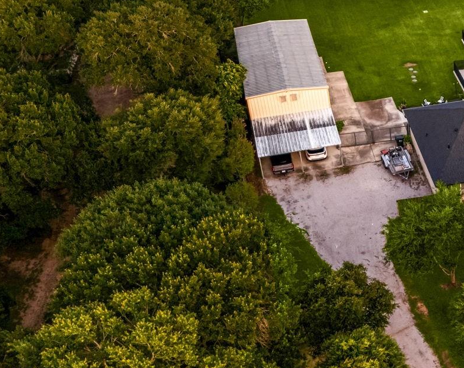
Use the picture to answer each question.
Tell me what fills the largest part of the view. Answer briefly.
trees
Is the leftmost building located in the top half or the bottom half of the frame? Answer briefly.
top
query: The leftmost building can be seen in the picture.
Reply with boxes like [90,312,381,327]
[234,18,344,177]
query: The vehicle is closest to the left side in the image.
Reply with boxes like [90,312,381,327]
[271,154,294,172]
